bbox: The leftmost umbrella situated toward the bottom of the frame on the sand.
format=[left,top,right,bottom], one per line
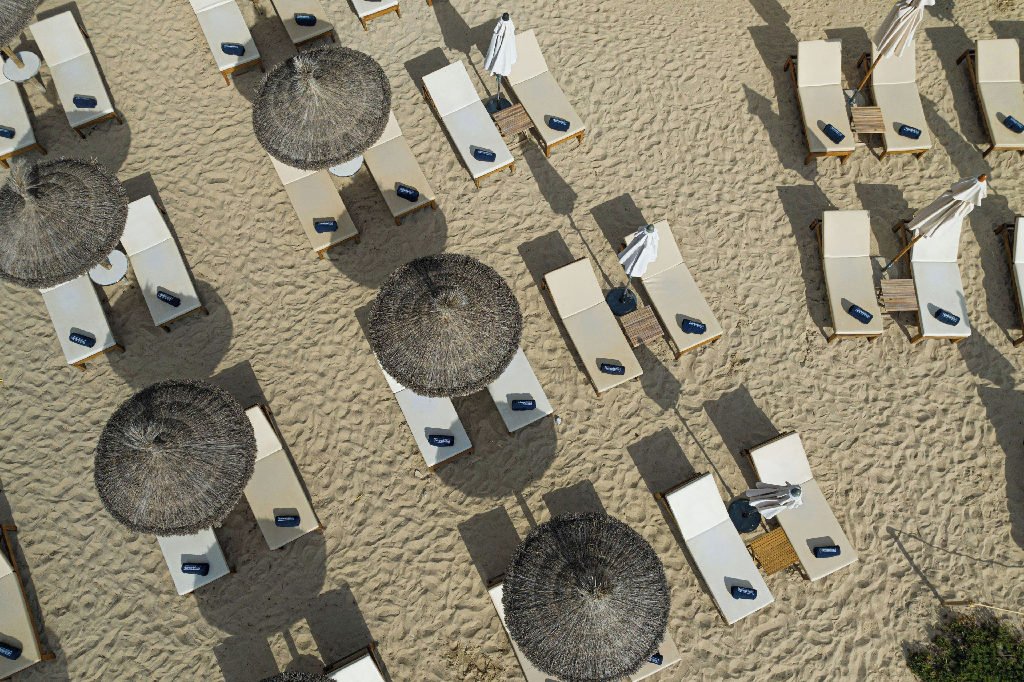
[90,373,262,542]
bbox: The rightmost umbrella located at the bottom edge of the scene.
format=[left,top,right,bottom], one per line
[497,507,675,682]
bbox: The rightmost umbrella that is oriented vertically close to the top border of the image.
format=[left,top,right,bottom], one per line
[483,12,517,101]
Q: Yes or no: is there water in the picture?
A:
No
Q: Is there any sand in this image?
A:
Yes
